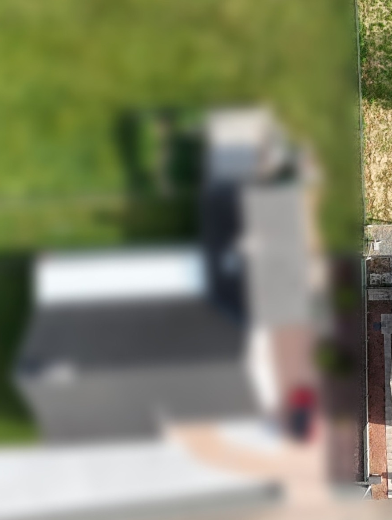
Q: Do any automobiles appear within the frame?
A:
Yes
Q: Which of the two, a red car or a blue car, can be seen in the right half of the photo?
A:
red car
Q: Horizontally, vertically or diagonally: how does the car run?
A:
vertically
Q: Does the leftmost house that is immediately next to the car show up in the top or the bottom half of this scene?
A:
bottom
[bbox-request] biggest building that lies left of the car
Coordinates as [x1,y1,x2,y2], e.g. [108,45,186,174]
[10,293,278,446]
